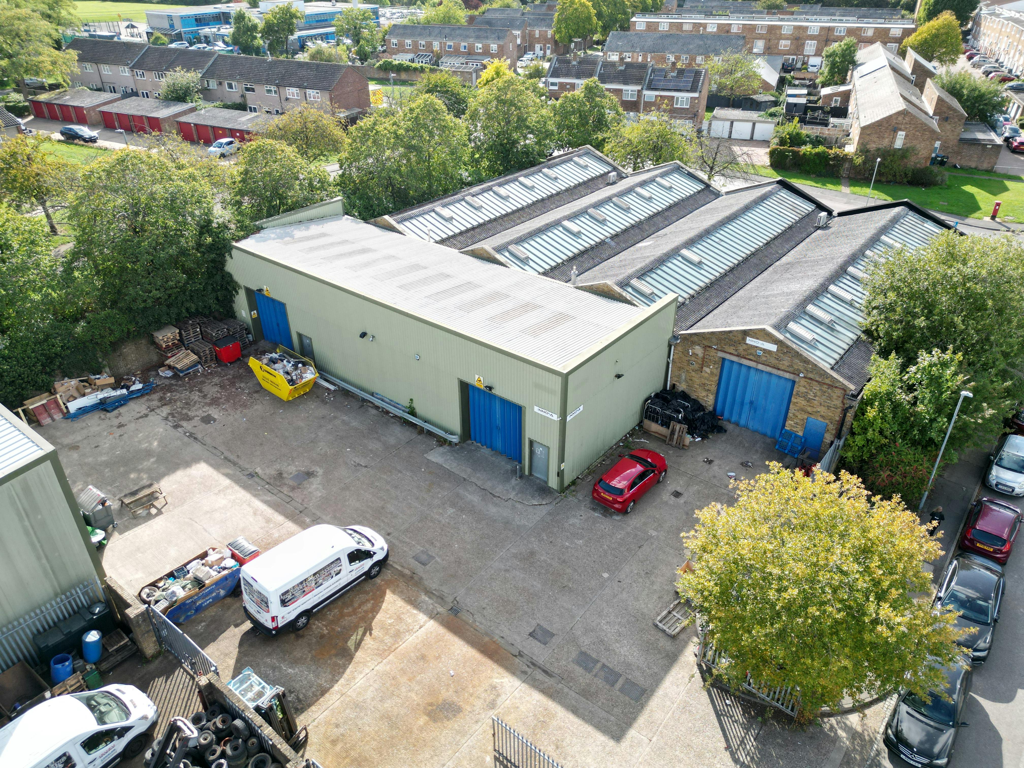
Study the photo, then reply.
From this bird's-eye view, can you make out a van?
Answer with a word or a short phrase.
Yes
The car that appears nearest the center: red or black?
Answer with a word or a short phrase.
red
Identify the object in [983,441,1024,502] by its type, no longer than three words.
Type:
car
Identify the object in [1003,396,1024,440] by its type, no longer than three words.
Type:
car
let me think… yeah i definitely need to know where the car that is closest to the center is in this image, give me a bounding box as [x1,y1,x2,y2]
[590,451,666,516]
